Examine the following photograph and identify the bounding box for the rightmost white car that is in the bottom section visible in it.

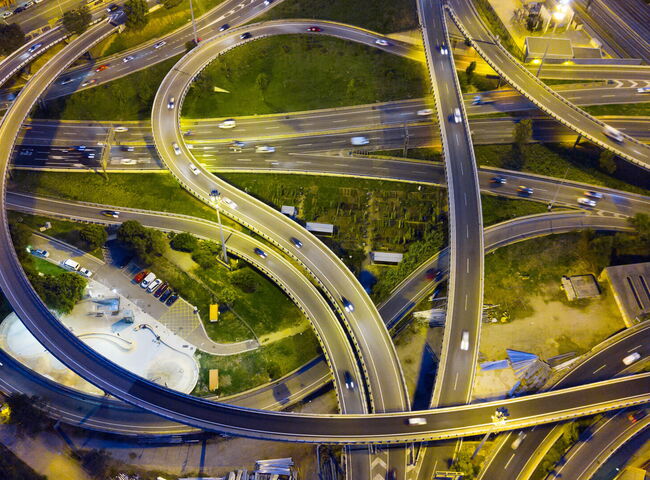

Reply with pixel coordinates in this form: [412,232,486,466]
[622,352,638,364]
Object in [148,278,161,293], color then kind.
white vehicle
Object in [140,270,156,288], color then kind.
white vehicle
